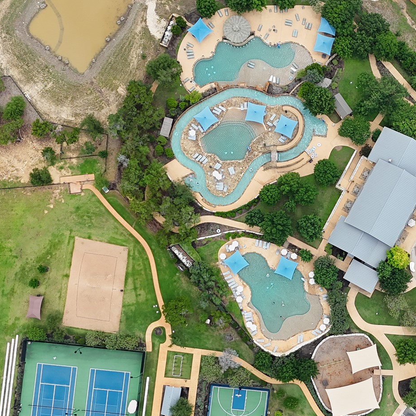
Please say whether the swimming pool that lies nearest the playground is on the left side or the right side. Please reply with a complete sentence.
You can find the swimming pool that lies nearest the playground on the right side of the picture.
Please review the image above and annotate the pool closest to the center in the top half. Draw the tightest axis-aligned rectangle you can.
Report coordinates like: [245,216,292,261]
[199,106,268,162]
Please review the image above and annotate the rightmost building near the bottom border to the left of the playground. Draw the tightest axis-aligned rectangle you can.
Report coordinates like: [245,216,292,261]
[161,385,183,416]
